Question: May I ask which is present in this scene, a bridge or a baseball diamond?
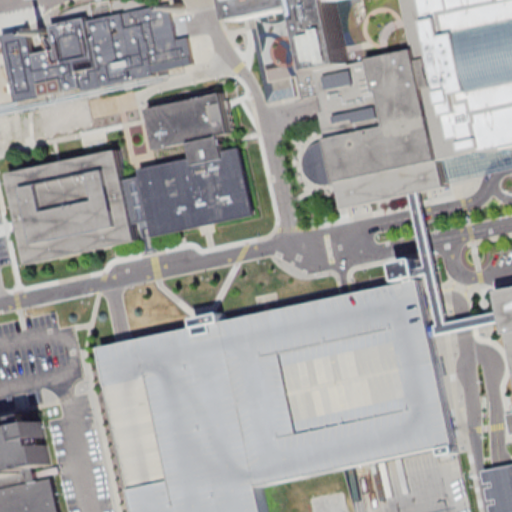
bridge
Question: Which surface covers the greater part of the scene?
buildings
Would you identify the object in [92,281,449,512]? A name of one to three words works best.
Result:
building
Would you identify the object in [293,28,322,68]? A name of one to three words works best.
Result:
shed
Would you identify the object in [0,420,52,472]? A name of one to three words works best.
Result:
building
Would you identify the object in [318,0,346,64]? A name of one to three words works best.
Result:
shed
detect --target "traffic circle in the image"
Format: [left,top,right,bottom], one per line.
[460,239,490,272]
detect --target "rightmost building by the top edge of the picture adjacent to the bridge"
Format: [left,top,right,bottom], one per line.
[413,0,512,155]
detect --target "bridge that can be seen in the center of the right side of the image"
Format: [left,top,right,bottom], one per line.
[407,186,497,335]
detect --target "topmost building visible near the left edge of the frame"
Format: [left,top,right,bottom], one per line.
[2,6,194,102]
